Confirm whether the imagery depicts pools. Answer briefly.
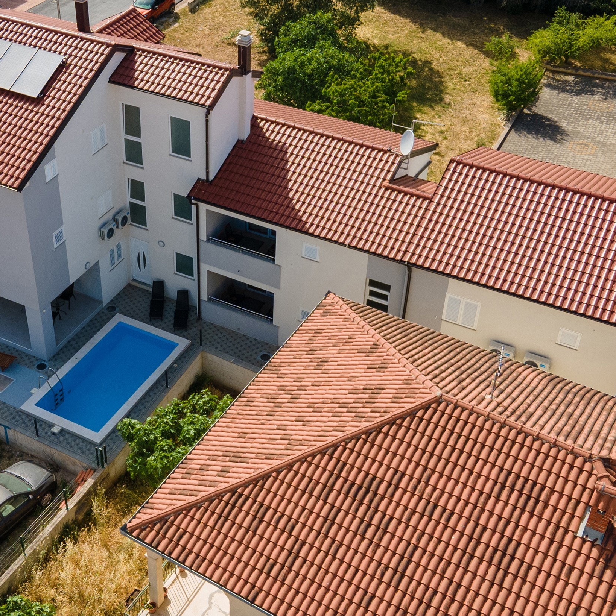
Yes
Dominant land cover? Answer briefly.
buildings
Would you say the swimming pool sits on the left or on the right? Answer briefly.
left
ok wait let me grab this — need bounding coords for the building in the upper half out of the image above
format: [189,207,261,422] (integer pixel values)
[0,0,616,397]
